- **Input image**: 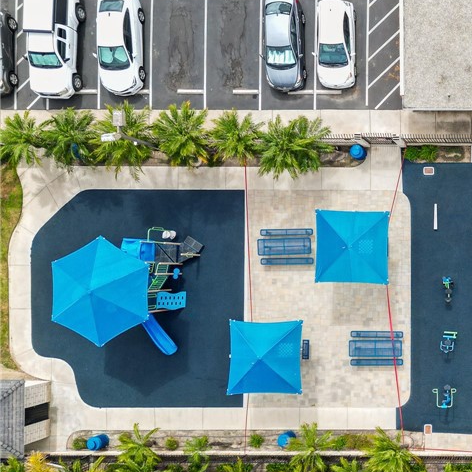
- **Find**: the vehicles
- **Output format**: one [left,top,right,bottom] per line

[259,0,309,96]
[311,0,359,89]
[91,0,148,97]
[22,0,87,98]
[0,4,19,98]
